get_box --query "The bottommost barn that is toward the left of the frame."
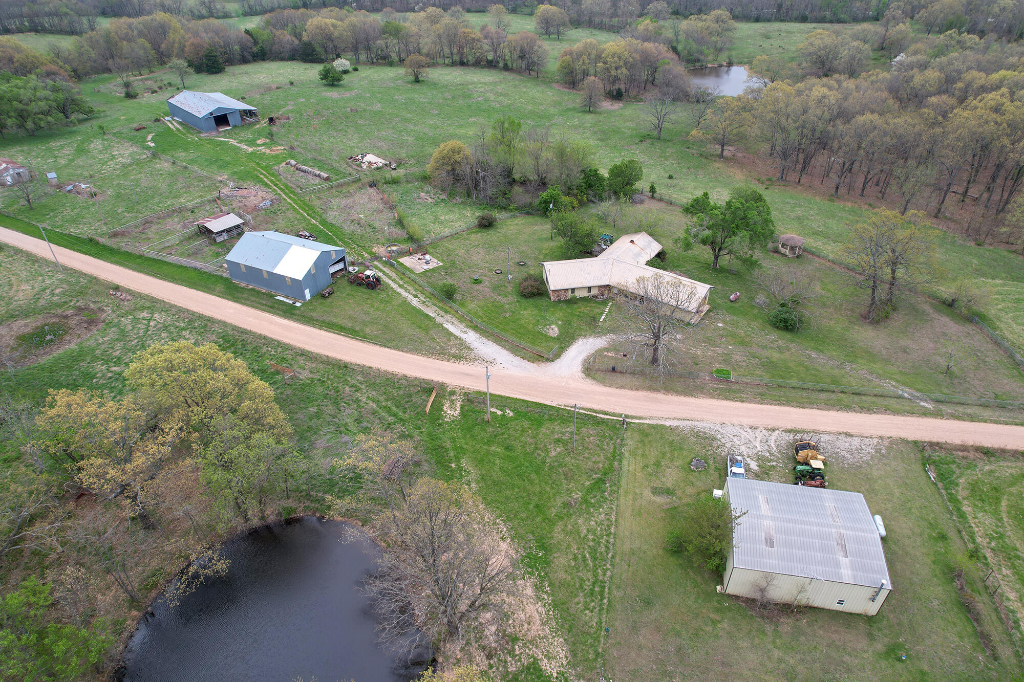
[225,231,346,301]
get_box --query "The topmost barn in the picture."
[165,92,259,131]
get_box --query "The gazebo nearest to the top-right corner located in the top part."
[778,228,811,255]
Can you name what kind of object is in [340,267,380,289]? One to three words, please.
work vehicle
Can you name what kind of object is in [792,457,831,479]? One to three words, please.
work vehicle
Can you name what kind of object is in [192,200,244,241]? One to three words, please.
shed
